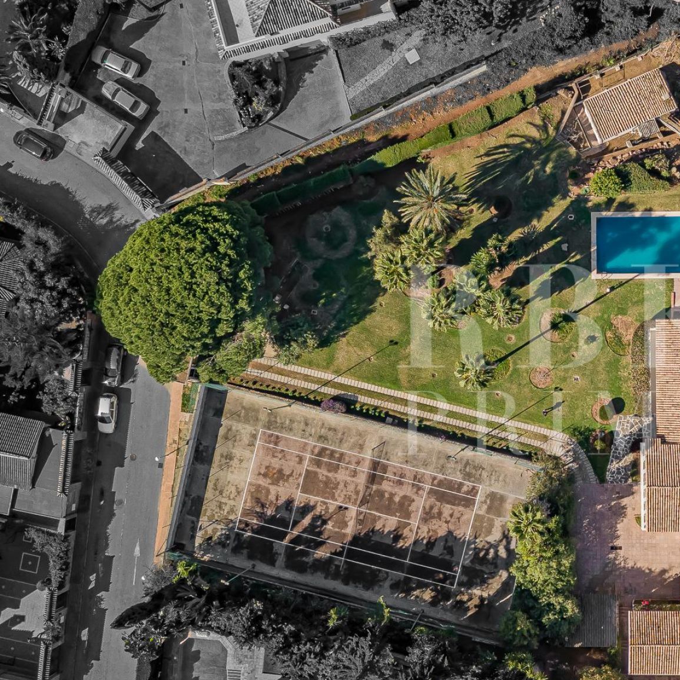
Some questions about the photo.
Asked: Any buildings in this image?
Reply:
Yes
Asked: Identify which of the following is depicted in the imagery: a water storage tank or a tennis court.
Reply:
tennis court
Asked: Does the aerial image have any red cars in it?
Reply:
No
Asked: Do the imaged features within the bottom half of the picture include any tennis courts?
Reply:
Yes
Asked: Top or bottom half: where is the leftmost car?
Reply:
top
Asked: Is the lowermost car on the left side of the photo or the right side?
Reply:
left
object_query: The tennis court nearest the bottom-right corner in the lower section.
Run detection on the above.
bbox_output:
[178,389,551,636]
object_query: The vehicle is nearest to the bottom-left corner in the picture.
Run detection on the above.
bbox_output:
[96,393,120,432]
